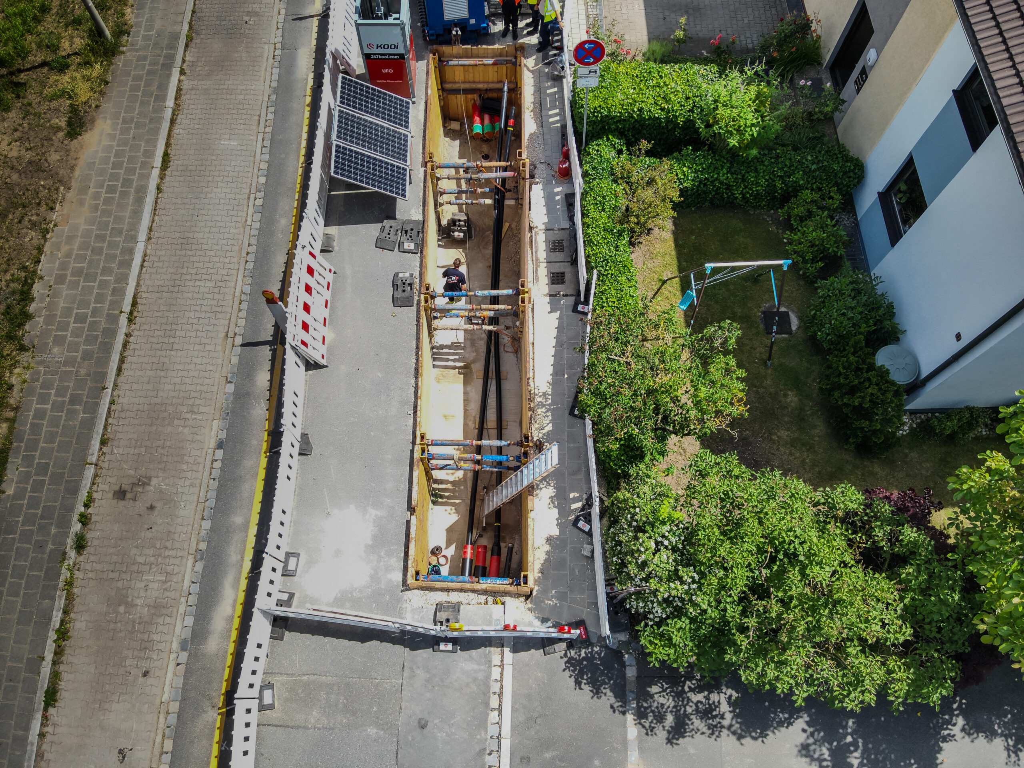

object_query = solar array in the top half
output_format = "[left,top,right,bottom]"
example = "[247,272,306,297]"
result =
[326,74,412,211]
